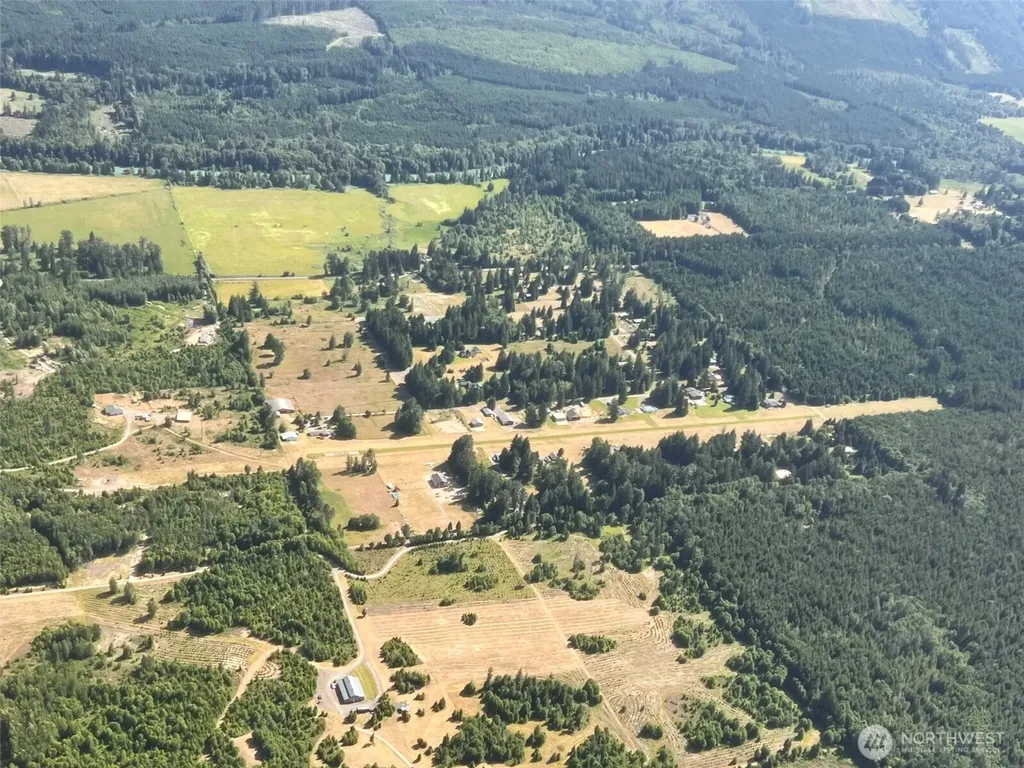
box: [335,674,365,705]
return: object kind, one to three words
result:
hangar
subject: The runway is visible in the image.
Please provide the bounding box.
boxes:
[299,396,945,464]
